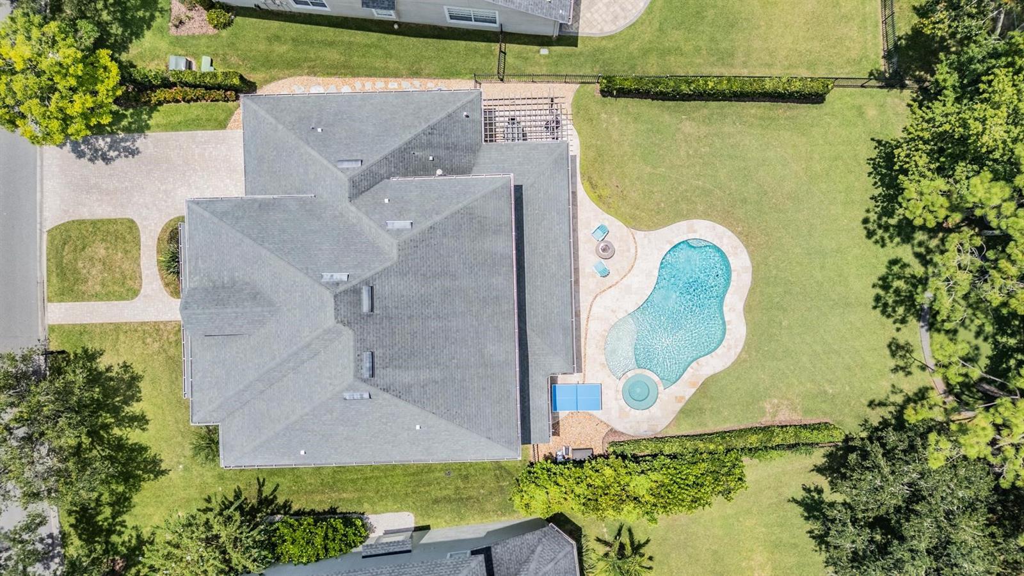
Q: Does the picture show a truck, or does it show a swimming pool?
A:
swimming pool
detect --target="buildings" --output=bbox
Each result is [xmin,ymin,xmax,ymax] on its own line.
[221,519,581,576]
[214,0,573,37]
[178,87,578,470]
